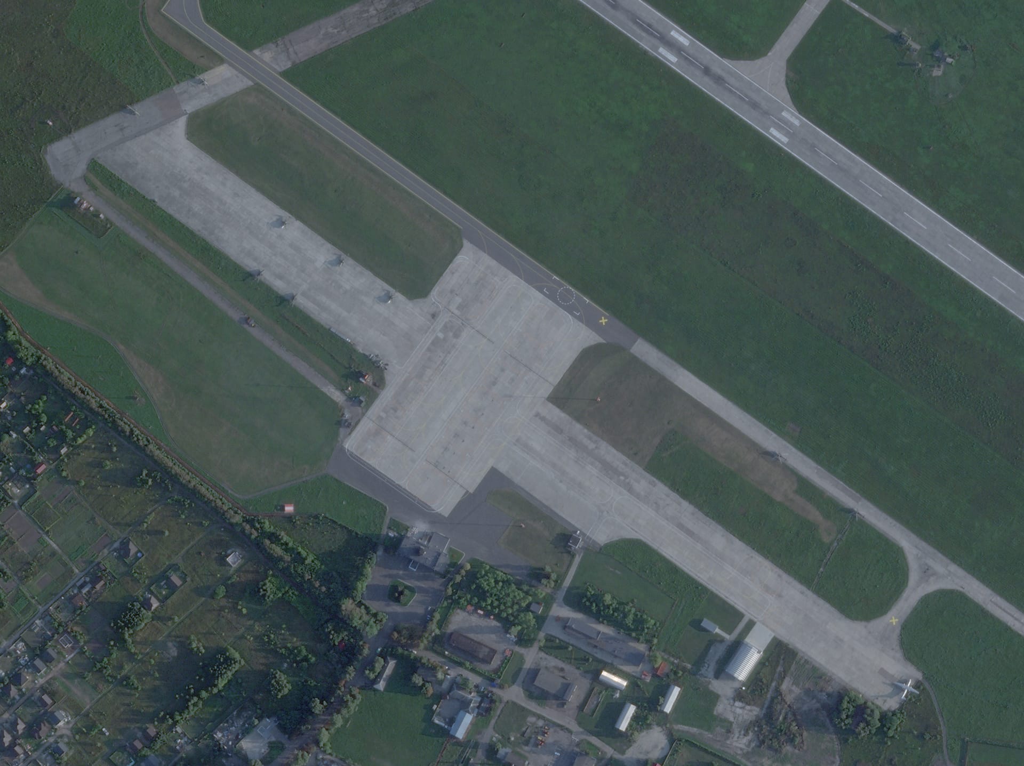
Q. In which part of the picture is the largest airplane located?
bottom right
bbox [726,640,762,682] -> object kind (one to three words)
hangar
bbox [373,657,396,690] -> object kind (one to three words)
house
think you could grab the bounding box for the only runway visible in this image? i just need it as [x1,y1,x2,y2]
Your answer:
[580,0,1024,321]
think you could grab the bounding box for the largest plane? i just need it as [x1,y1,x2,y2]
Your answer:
[895,679,920,700]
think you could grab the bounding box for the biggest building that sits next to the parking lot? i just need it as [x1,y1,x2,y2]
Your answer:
[398,529,450,572]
